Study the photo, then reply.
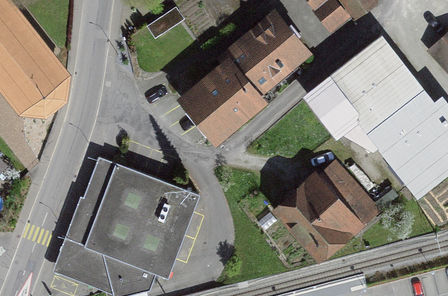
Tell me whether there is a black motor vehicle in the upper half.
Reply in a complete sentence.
Yes, looking in the upper half, one can make out a black motor vehicle.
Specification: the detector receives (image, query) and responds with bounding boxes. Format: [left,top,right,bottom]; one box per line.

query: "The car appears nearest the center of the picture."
[180,115,194,128]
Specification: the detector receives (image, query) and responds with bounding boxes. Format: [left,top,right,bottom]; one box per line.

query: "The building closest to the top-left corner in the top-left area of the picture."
[0,0,71,118]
